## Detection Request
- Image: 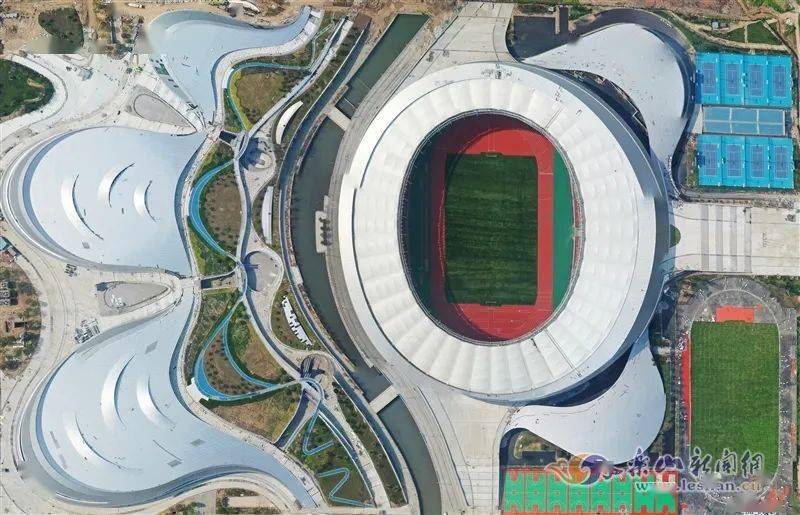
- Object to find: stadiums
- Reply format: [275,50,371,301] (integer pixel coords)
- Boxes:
[339,61,676,409]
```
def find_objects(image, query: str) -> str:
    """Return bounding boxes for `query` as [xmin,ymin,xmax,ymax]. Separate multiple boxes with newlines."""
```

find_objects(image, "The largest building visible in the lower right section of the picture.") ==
[504,326,666,464]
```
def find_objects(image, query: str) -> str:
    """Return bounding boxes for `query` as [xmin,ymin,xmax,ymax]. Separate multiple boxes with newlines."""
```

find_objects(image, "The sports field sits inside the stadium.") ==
[447,151,538,307]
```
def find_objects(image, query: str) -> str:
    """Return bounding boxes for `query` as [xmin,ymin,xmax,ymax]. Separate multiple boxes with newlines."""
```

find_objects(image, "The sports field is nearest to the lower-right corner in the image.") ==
[691,320,779,474]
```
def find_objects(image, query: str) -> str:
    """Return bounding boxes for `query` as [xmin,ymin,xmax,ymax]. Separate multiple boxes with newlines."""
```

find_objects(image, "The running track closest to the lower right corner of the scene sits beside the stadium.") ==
[675,278,797,515]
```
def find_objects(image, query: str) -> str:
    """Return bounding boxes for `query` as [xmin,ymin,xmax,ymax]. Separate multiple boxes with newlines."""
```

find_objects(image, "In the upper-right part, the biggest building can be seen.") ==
[521,23,685,203]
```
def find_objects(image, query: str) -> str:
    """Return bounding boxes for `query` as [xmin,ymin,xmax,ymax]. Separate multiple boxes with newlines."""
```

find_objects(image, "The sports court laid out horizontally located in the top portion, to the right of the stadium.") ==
[702,106,786,135]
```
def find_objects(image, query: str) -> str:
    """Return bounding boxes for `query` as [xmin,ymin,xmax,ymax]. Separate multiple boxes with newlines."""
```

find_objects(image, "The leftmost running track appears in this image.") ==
[430,109,554,344]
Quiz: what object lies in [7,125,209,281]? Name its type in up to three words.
building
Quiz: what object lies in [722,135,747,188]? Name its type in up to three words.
tennis court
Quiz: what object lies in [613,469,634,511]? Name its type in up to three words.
basketball court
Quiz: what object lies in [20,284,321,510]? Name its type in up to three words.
building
